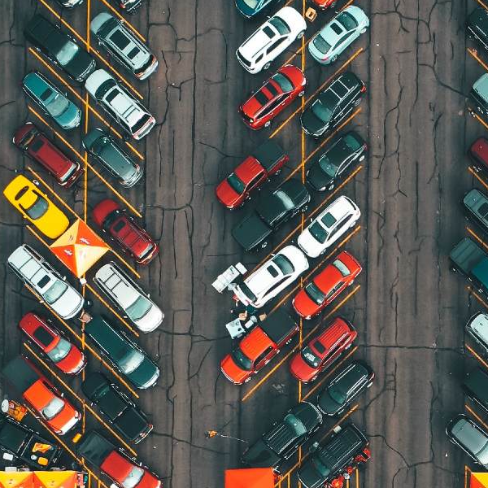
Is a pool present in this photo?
No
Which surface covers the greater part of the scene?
paved ground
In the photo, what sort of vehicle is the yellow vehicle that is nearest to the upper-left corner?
automobile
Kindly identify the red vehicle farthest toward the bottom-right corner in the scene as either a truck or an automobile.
automobile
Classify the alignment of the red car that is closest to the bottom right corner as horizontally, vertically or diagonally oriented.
diagonally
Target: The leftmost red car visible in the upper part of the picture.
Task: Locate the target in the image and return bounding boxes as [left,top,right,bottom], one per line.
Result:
[16,126,83,190]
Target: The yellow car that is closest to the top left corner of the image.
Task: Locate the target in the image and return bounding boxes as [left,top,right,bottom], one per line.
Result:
[3,176,71,241]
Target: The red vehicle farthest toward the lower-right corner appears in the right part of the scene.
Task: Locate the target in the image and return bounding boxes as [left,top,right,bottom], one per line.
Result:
[292,319,358,384]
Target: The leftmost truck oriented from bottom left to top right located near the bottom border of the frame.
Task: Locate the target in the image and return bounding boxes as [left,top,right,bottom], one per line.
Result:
[238,402,323,469]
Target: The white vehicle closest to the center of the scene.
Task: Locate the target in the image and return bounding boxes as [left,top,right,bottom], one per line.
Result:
[238,248,307,310]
